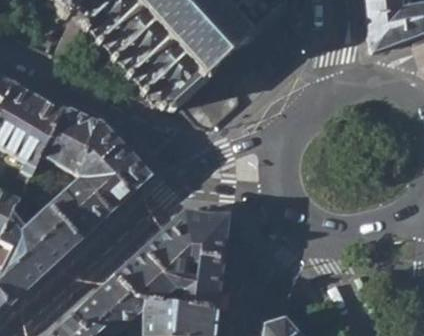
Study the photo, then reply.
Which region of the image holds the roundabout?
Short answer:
right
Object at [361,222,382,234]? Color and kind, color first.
white vehicle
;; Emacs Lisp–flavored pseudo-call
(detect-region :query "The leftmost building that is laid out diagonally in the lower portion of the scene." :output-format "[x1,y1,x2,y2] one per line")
[0,177,94,290]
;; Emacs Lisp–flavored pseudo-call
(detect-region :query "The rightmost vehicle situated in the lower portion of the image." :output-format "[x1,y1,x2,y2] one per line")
[394,206,416,220]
